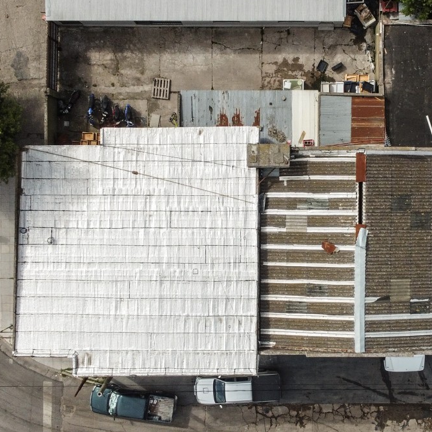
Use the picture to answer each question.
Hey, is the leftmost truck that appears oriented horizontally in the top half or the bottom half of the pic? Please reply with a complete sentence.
It is in the bottom half that the leftmost truck that appears oriented horizontally appears.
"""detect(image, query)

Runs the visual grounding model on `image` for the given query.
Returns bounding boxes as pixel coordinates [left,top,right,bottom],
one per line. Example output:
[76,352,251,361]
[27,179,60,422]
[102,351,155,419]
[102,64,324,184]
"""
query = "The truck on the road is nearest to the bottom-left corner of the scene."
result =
[85,385,176,428]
